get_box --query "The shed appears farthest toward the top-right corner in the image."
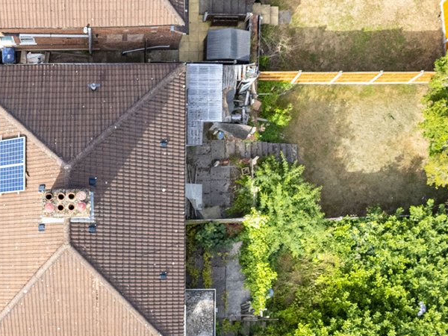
[203,27,251,70]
